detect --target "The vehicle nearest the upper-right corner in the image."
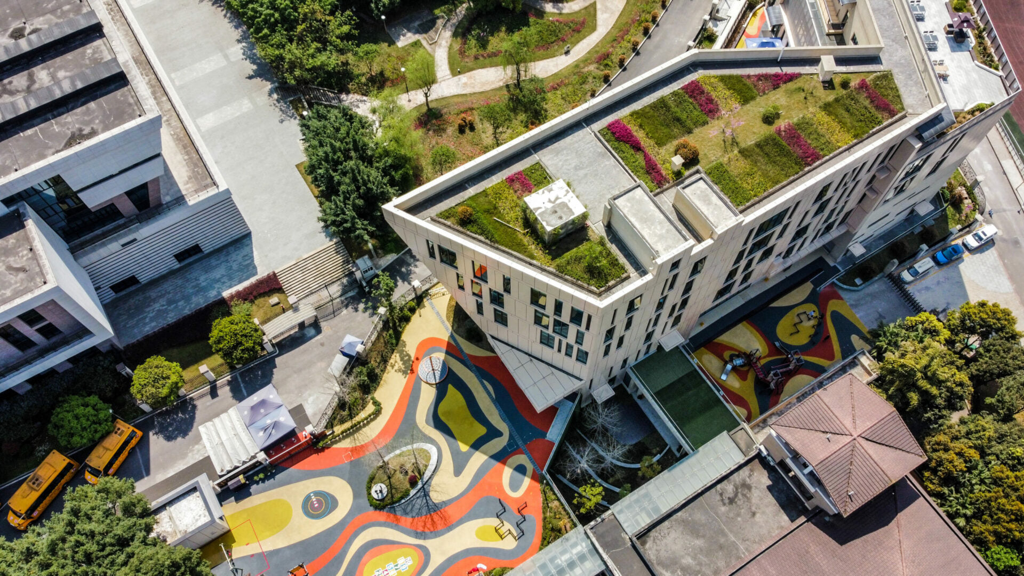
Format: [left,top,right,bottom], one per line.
[961,221,1001,251]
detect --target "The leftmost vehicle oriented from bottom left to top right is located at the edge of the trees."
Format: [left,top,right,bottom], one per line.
[4,452,84,530]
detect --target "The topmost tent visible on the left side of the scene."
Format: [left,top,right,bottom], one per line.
[339,335,368,367]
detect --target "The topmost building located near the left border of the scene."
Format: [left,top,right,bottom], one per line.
[0,0,259,312]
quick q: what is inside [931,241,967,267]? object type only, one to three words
car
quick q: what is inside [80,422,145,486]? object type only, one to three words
bus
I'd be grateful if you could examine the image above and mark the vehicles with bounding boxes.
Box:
[897,253,938,285]
[4,452,84,530]
[931,241,967,267]
[80,422,145,486]
[961,221,1001,251]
